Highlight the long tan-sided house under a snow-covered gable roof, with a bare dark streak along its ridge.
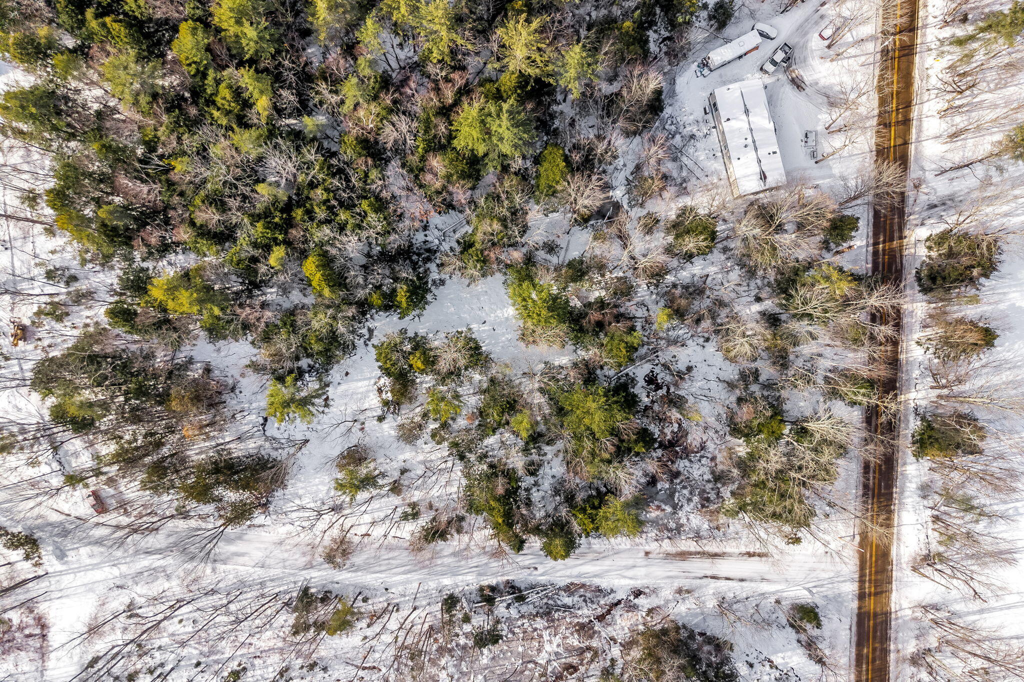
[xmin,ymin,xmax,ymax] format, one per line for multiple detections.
[710,78,787,196]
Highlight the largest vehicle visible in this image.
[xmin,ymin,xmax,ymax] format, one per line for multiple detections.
[701,28,762,72]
